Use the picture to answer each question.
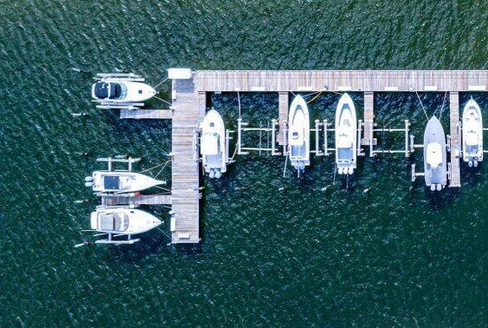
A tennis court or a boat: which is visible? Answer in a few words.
boat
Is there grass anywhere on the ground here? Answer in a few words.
No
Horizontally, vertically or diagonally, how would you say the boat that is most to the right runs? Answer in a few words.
vertically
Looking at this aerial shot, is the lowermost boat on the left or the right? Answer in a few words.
left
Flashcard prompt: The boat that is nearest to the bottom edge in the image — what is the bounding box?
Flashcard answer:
[90,208,170,234]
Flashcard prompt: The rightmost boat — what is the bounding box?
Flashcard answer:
[462,95,483,169]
